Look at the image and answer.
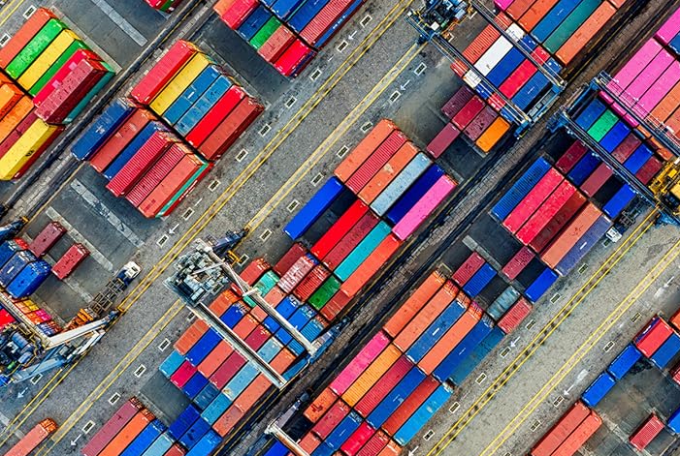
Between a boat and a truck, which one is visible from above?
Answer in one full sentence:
Of the two, only a truck appears.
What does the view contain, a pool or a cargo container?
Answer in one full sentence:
Visible in the photo is a cargo container.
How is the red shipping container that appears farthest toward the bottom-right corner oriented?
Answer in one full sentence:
The red shipping container that appears farthest toward the bottom-right corner has been laid out at an angle relative to the frame.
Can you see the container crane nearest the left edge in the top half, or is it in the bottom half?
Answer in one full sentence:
The bottom half of the photo is where the container crane nearest the left edge is.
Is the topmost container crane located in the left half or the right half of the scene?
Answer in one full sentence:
The topmost container crane appears in the right half of the scene.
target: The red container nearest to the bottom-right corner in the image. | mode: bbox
[629,412,665,451]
